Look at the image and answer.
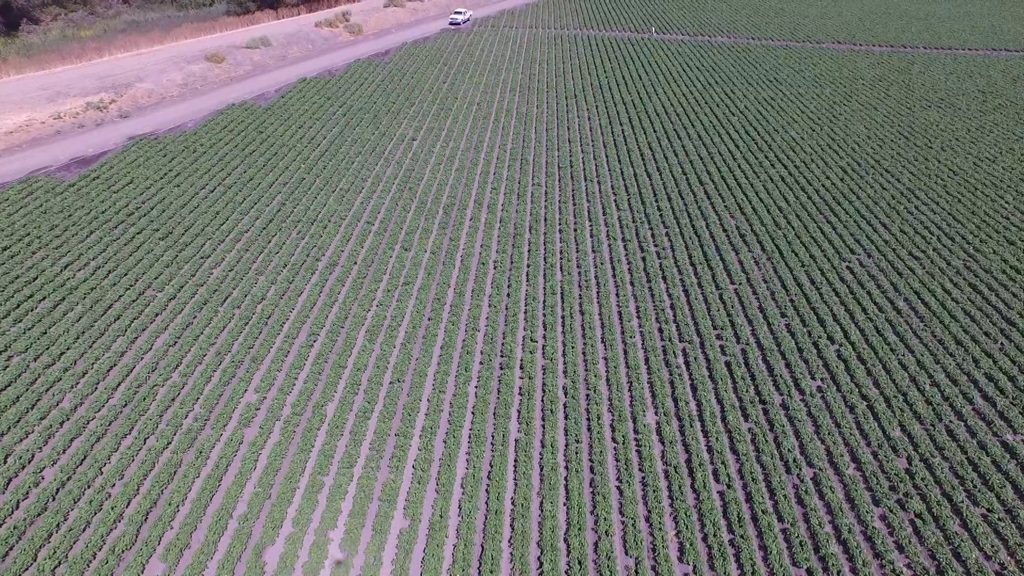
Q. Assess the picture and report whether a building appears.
No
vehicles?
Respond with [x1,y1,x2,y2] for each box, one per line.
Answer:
[450,9,473,25]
